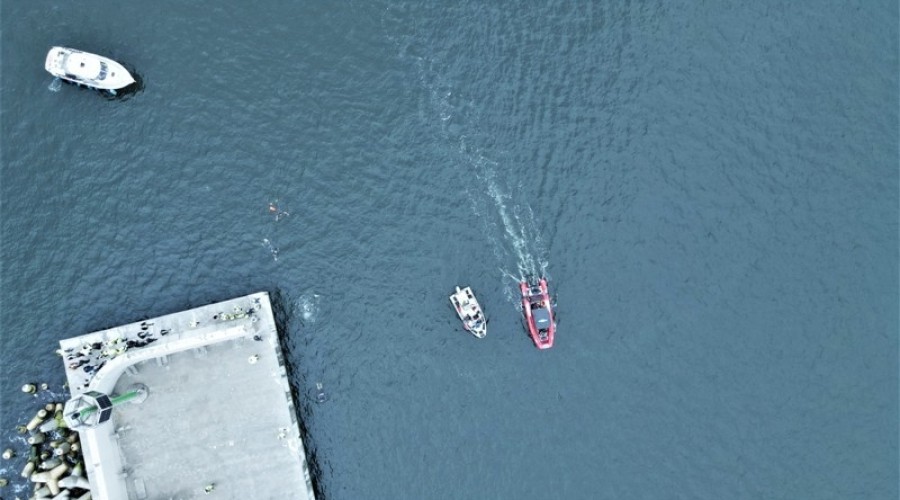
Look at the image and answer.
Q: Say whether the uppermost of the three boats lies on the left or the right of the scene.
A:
left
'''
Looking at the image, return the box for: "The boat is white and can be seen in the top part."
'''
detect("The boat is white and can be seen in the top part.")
[45,47,134,94]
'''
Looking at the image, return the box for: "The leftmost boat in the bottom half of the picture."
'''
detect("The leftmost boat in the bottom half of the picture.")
[450,286,486,339]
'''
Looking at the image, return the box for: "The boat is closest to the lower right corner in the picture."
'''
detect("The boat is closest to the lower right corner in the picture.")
[520,277,554,349]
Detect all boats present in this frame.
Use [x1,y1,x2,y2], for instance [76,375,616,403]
[450,286,486,339]
[45,47,134,94]
[520,277,554,349]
